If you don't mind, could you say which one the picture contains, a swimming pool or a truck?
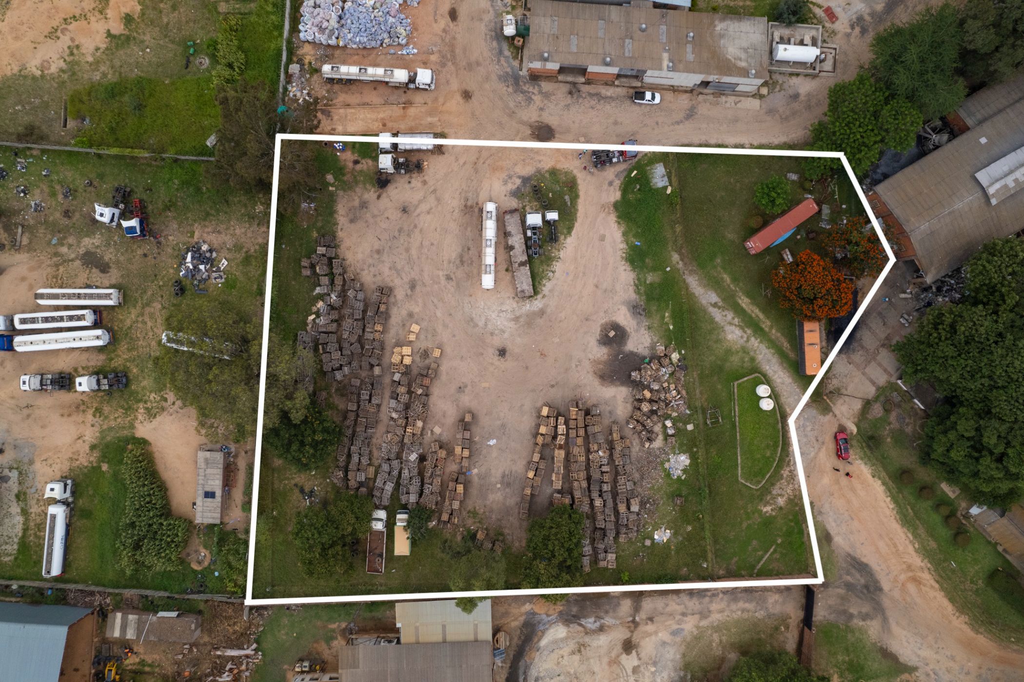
truck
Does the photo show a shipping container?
Yes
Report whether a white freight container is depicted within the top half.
No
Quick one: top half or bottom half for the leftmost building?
bottom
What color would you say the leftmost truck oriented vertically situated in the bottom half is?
white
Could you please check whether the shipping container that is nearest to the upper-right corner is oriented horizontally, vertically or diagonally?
diagonally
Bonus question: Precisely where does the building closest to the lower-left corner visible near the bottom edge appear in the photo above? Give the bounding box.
[0,602,98,682]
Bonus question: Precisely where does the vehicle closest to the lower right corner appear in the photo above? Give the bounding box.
[833,433,849,460]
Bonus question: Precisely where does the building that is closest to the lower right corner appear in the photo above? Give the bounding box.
[969,504,1024,572]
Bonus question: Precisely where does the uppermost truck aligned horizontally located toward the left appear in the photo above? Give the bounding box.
[322,65,438,91]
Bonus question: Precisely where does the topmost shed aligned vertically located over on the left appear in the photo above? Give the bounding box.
[195,449,228,524]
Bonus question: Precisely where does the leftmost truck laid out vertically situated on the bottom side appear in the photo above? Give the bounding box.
[43,477,79,577]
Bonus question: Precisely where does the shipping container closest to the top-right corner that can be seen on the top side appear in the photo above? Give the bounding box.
[744,200,815,253]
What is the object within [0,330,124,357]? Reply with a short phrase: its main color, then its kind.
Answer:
white truck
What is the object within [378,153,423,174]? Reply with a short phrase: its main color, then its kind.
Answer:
white truck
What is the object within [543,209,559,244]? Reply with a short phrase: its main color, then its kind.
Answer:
white vehicle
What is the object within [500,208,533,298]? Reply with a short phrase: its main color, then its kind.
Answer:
gray trailer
